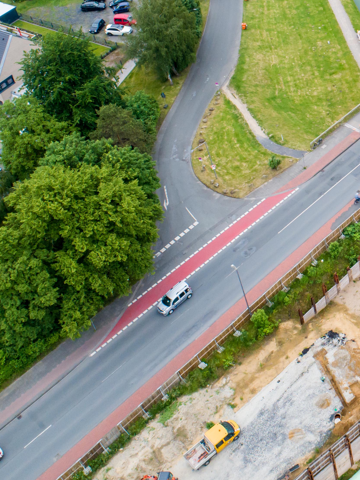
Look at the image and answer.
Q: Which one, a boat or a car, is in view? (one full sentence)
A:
The one in the frame is a car.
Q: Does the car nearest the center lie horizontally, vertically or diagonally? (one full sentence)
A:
From this overhead view, the car nearest the center appears to run diagonally.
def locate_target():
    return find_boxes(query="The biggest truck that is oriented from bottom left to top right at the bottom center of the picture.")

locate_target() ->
[177,420,240,479]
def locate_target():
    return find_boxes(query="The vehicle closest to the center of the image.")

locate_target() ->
[154,280,196,319]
